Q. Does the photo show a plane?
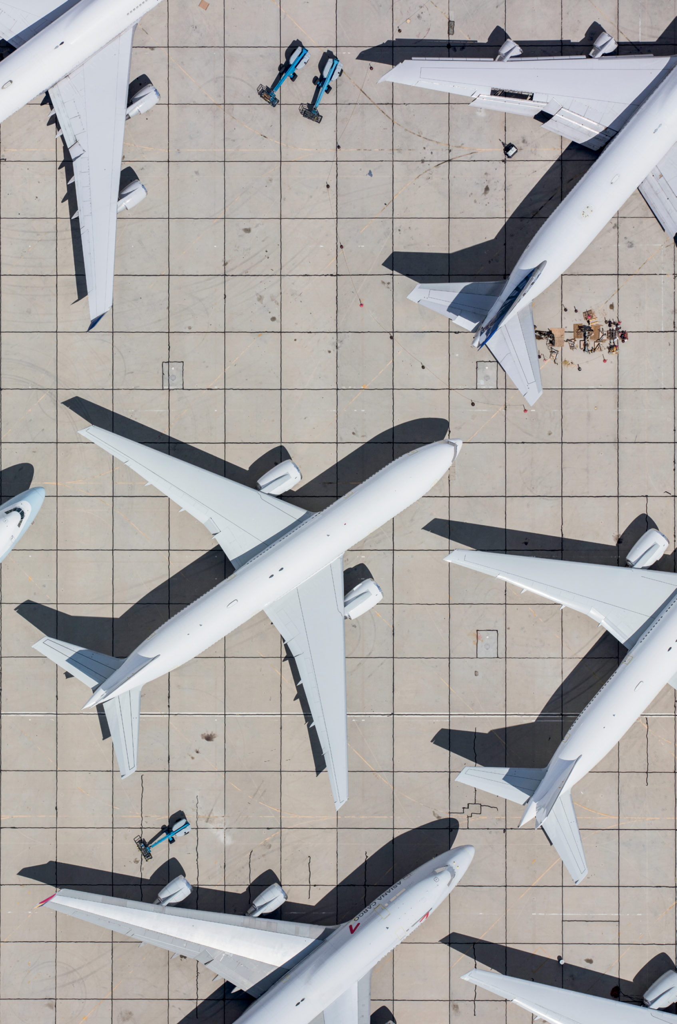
Yes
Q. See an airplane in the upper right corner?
Yes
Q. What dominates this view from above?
paved ground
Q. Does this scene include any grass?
No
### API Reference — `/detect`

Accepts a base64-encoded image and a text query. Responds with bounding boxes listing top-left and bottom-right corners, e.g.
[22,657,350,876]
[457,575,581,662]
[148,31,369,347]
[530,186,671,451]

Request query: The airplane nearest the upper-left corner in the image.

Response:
[0,0,162,332]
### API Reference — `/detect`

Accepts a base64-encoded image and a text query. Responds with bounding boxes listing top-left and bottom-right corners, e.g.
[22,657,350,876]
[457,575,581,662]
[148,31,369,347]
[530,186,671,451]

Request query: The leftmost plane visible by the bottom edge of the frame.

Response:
[33,845,474,1024]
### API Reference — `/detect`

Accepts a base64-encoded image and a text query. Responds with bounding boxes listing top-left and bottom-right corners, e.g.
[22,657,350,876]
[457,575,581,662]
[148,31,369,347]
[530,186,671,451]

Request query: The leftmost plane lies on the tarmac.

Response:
[0,488,45,562]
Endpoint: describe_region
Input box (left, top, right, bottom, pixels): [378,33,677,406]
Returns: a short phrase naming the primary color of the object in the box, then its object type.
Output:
white airplane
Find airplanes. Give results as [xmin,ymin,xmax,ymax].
[0,0,162,332]
[443,530,677,885]
[33,845,474,1024]
[378,33,677,406]
[461,969,677,1024]
[0,488,45,562]
[31,425,463,810]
